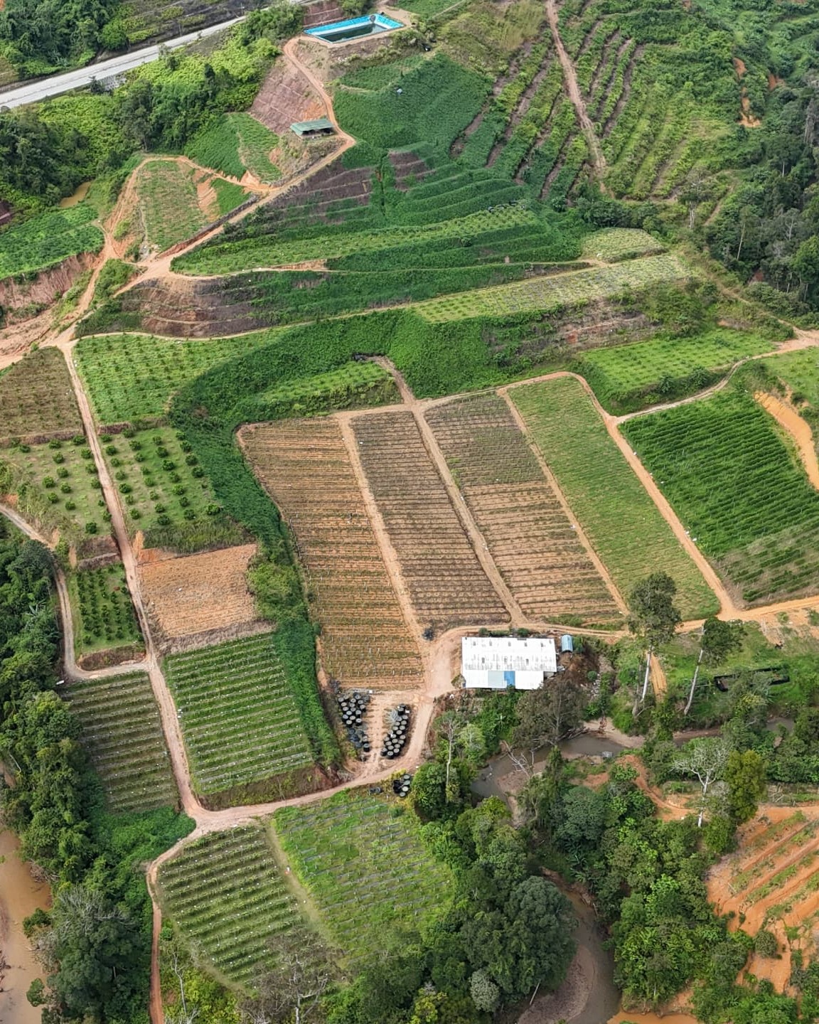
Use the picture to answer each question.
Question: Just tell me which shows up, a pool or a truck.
pool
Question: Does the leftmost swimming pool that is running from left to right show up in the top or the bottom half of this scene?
top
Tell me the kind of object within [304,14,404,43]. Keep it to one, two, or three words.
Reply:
swimming pool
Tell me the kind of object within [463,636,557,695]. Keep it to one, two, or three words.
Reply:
shed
